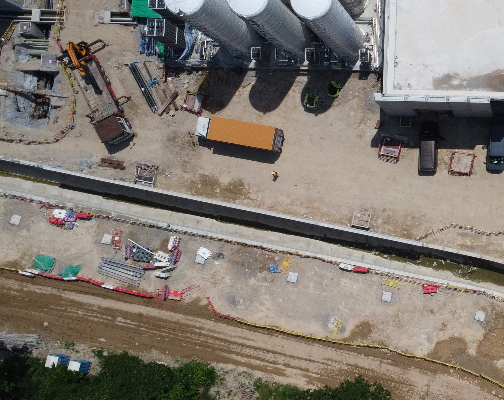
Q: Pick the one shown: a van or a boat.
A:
van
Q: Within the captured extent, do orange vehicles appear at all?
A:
Yes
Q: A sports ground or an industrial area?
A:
industrial area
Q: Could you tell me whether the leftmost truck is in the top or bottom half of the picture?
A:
top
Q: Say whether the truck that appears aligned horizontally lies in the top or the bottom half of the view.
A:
top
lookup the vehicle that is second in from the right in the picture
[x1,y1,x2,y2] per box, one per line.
[415,124,443,173]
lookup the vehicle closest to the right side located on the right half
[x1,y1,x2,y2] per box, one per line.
[484,124,504,173]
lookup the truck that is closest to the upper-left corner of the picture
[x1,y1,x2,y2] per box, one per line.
[51,44,131,146]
